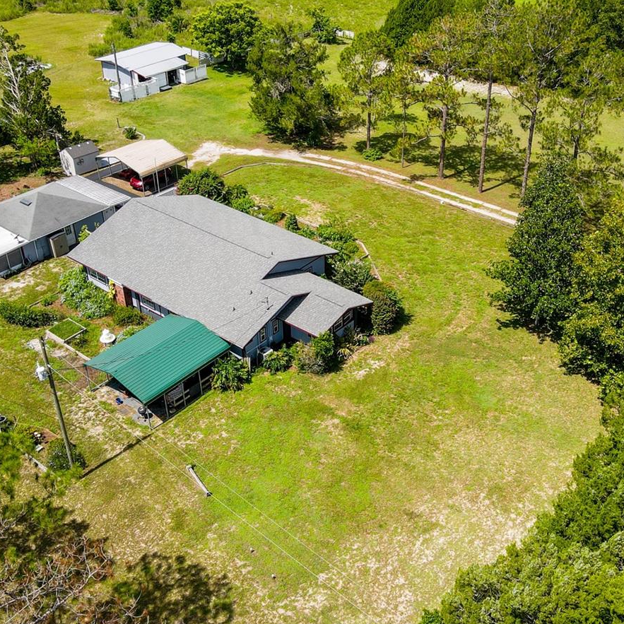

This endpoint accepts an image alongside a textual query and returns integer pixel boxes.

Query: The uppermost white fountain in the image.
[97,327,115,346]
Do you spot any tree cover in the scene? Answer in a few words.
Yes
